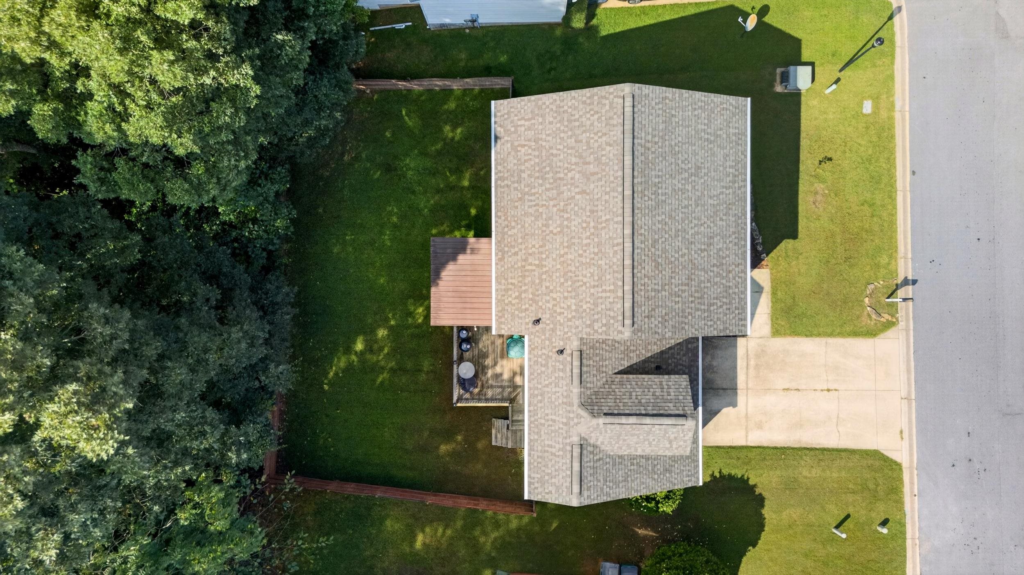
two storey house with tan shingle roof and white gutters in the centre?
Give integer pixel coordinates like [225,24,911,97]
[489,83,751,508]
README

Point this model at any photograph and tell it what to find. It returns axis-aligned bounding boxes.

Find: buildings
[489,83,751,508]
[325,0,567,30]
